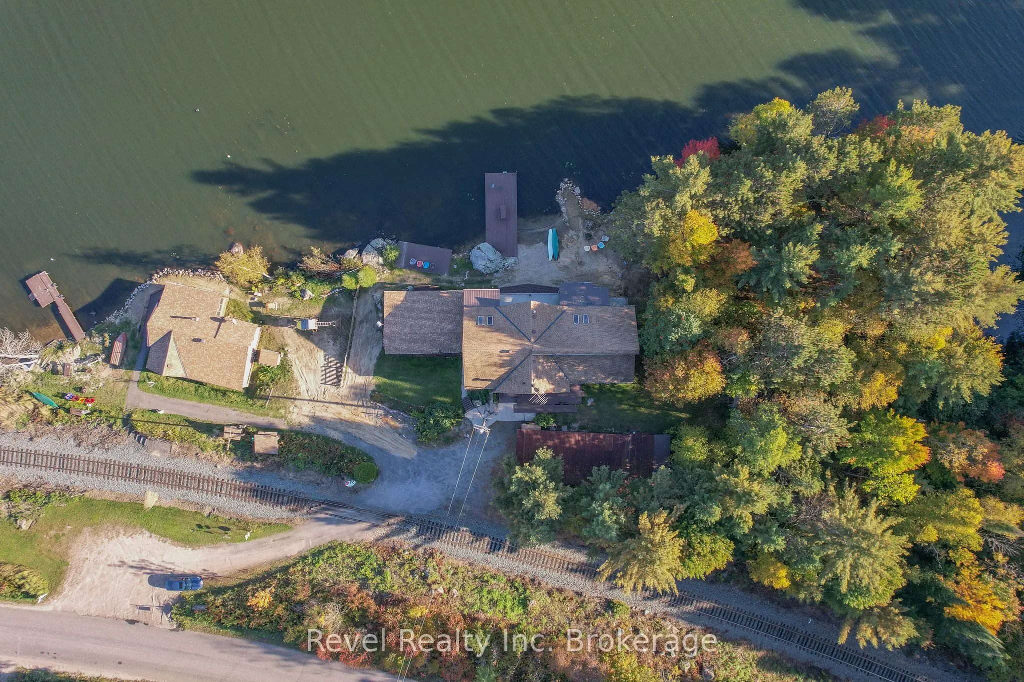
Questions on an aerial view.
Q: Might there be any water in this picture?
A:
Yes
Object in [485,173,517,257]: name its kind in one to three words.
pier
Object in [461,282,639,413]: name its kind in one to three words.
house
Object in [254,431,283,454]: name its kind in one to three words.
shed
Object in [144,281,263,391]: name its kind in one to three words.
house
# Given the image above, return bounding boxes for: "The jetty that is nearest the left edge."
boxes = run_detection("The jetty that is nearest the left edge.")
[23,271,86,342]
